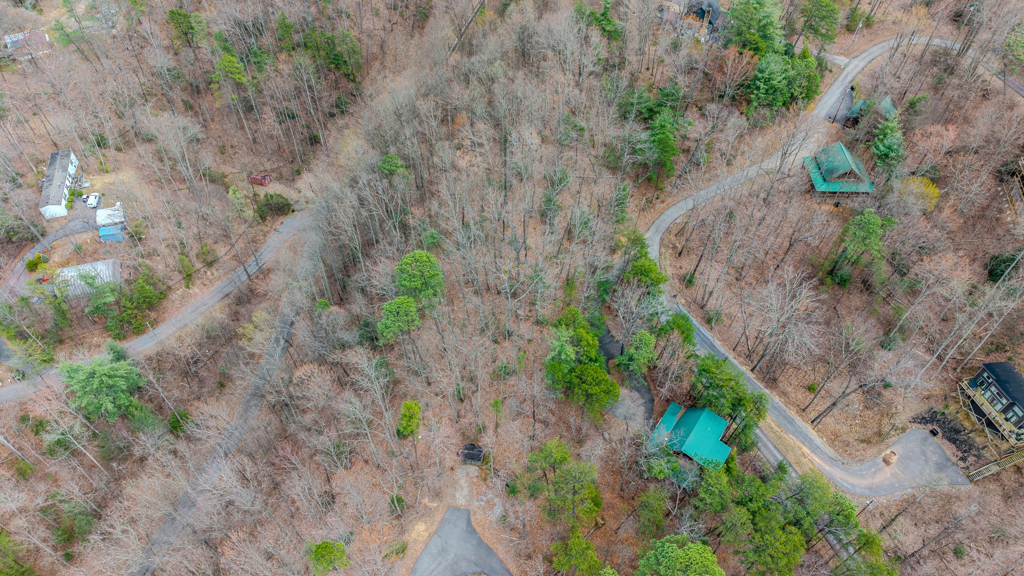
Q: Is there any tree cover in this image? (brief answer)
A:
Yes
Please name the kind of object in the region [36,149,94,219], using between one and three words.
house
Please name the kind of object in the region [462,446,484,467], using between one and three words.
shed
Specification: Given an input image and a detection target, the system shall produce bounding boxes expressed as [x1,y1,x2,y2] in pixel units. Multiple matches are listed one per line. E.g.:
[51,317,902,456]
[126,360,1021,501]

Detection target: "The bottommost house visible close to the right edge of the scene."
[949,361,1024,477]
